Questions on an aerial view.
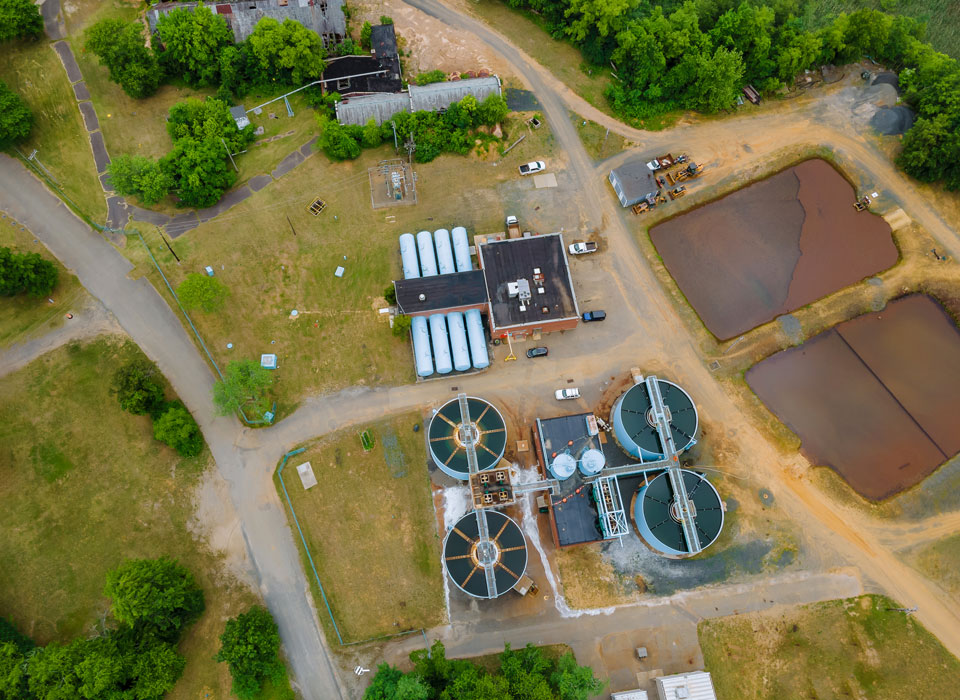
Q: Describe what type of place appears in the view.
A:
industrial area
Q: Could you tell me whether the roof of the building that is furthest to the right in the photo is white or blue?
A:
white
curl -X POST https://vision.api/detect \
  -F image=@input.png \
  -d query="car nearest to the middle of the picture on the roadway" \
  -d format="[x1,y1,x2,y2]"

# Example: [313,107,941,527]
[526,346,549,358]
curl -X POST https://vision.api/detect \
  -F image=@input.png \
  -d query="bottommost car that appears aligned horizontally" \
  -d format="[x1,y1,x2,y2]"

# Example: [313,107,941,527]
[554,386,581,400]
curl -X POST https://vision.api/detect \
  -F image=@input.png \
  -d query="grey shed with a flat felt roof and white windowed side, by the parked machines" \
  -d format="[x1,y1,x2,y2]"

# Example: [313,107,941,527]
[609,162,658,208]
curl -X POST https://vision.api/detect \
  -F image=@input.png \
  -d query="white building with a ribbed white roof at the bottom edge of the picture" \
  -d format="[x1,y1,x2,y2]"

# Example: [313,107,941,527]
[650,671,714,700]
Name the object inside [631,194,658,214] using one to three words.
work vehicle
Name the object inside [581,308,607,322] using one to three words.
car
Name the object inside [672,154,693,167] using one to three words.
vehicle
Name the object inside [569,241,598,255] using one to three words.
vehicle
